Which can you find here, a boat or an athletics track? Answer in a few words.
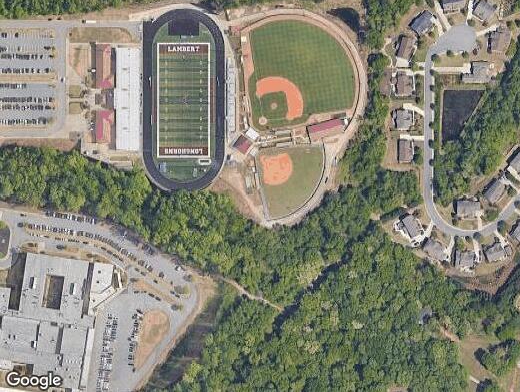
athletics track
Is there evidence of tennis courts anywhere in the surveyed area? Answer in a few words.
No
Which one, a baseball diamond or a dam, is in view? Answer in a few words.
baseball diamond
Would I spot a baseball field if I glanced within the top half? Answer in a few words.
Yes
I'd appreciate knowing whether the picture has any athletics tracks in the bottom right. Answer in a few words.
No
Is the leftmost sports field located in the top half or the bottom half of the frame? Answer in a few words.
top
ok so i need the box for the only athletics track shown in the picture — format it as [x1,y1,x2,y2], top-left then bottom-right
[141,10,228,193]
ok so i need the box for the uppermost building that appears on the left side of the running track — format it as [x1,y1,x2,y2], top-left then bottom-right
[95,44,110,89]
